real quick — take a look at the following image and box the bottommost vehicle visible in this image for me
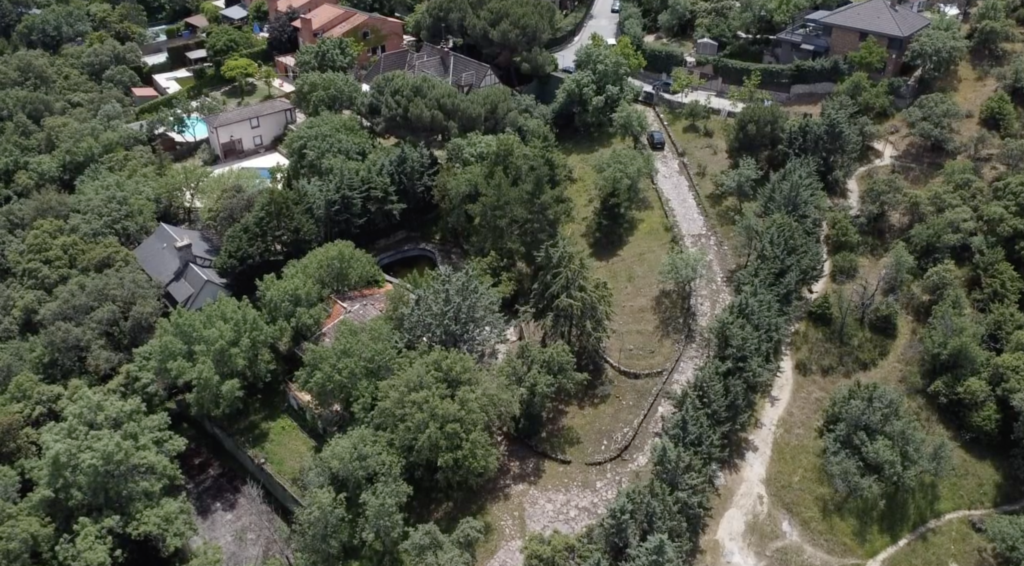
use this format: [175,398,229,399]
[647,129,667,147]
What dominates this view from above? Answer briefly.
trees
